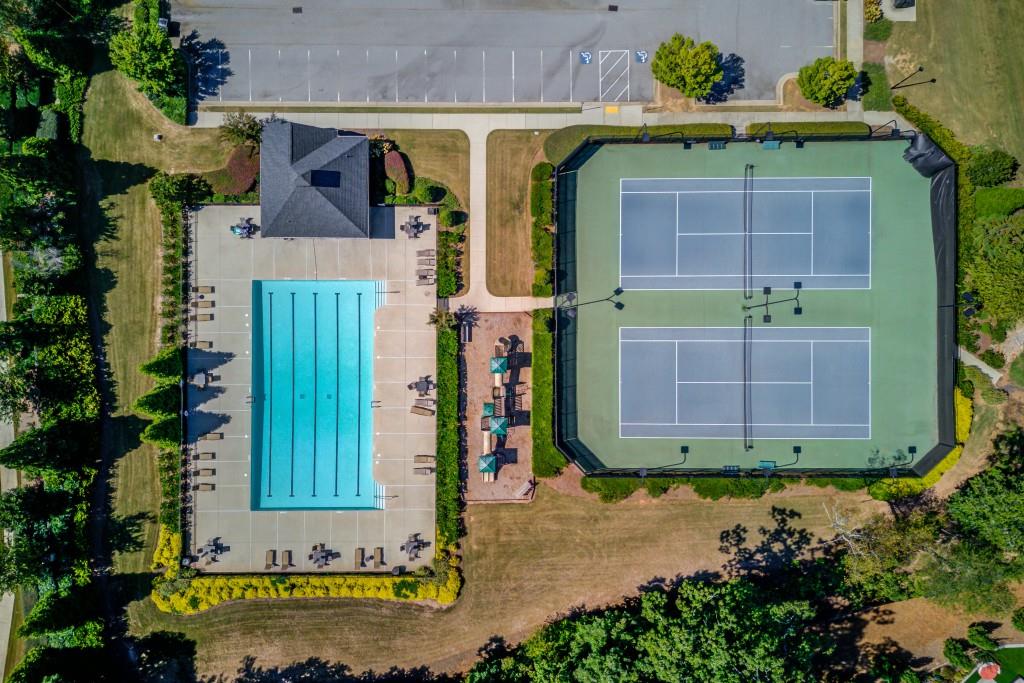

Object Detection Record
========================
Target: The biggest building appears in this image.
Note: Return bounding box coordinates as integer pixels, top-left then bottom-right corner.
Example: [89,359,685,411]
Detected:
[260,120,369,239]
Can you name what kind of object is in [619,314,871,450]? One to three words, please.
tennis court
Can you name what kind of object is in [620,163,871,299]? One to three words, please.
tennis court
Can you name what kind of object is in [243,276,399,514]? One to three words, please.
swimming pool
